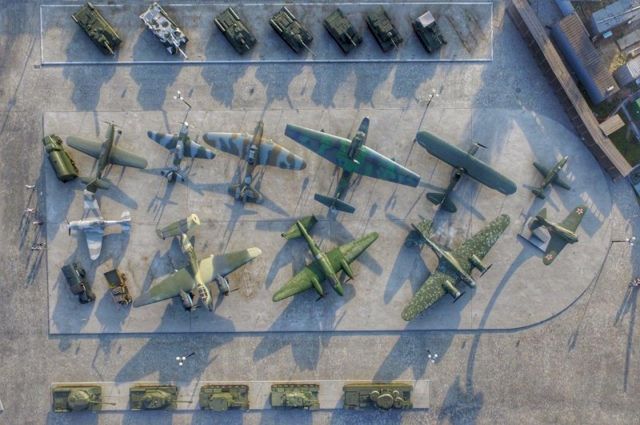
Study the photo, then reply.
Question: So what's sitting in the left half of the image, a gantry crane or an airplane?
airplane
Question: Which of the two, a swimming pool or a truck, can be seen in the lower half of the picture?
truck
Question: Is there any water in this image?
No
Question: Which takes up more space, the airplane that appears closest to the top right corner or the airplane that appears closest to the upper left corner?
the airplane that appears closest to the upper left corner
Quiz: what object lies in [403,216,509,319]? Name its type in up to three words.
airplane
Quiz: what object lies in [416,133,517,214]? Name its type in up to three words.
airplane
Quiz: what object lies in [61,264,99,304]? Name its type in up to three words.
truck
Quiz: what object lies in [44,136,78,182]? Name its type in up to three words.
truck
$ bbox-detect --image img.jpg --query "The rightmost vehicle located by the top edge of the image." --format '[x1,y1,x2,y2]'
[411,11,446,54]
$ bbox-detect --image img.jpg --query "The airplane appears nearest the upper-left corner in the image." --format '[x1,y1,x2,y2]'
[63,121,145,191]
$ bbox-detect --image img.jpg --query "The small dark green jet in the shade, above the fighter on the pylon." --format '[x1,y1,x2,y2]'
[532,157,572,202]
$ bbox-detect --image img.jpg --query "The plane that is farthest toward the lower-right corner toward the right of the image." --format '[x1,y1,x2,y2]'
[530,204,585,266]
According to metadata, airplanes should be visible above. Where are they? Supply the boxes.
[64,190,133,261]
[416,133,517,214]
[272,211,380,300]
[145,121,214,182]
[403,216,509,319]
[202,118,308,199]
[530,204,585,266]
[63,121,145,191]
[284,113,422,212]
[131,214,262,314]
[532,157,572,202]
